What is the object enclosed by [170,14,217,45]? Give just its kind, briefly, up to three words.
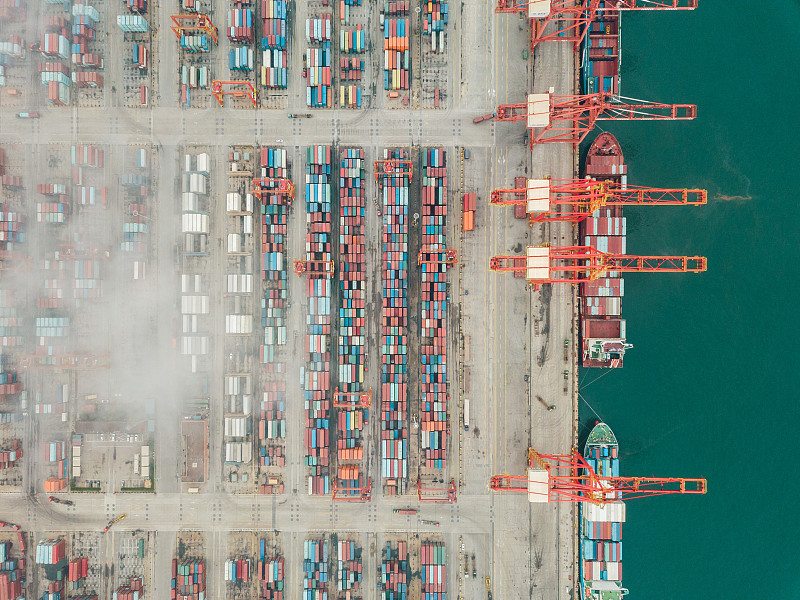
crane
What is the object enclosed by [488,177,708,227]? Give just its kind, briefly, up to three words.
container crane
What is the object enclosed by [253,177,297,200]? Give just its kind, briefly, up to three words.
crane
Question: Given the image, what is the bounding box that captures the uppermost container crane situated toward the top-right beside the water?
[495,0,698,55]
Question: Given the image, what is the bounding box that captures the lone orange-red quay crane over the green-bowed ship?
[488,444,708,503]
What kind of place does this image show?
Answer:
port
